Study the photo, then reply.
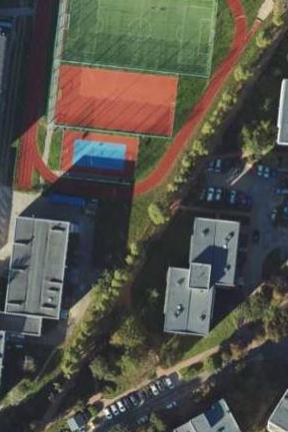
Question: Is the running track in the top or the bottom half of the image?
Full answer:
Seen from above, the running track lies in the top half of the view.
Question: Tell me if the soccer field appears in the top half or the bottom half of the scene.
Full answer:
The soccer field is in the top half of the image.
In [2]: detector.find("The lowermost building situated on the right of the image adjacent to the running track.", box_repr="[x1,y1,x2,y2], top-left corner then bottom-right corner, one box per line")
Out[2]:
[164,218,239,335]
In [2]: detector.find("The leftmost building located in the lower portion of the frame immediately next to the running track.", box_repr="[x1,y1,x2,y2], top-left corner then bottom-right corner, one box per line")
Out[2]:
[5,216,71,319]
